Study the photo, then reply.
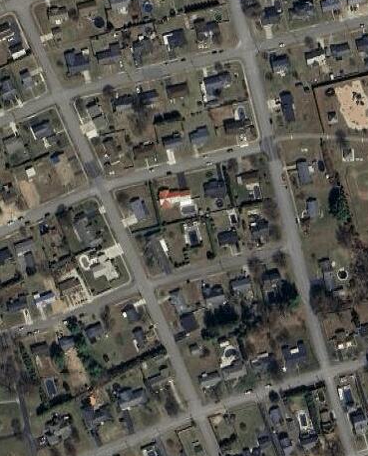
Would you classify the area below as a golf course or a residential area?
residential area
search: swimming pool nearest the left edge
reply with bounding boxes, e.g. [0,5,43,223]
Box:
[44,377,57,397]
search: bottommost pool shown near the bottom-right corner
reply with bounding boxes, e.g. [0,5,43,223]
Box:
[298,412,311,430]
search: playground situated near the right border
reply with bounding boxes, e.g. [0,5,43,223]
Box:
[333,81,368,130]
